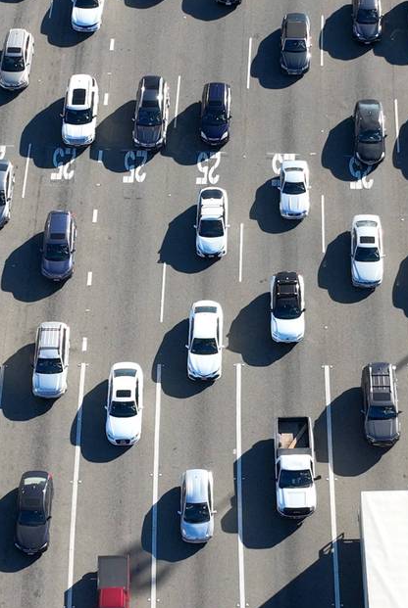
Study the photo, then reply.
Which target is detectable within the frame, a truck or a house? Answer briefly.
truck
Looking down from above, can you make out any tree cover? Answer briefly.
No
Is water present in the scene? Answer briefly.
No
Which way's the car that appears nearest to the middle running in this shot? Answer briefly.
up and down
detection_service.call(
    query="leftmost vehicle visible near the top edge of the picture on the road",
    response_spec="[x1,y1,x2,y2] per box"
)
[0,27,36,91]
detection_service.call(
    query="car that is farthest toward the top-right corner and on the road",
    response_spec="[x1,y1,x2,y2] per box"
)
[350,0,384,44]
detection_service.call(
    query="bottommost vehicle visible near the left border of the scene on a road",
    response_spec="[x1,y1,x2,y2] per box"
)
[13,473,55,556]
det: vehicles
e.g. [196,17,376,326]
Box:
[268,268,307,343]
[278,161,311,221]
[105,365,144,446]
[0,162,14,227]
[353,101,388,166]
[70,0,106,32]
[359,491,408,608]
[0,27,36,91]
[61,73,99,147]
[193,186,230,258]
[350,0,384,44]
[180,469,217,544]
[279,15,313,76]
[273,416,319,521]
[93,553,132,608]
[132,75,169,148]
[38,210,76,281]
[198,81,233,147]
[361,362,403,447]
[31,321,72,398]
[186,303,224,381]
[350,217,387,289]
[13,473,55,556]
